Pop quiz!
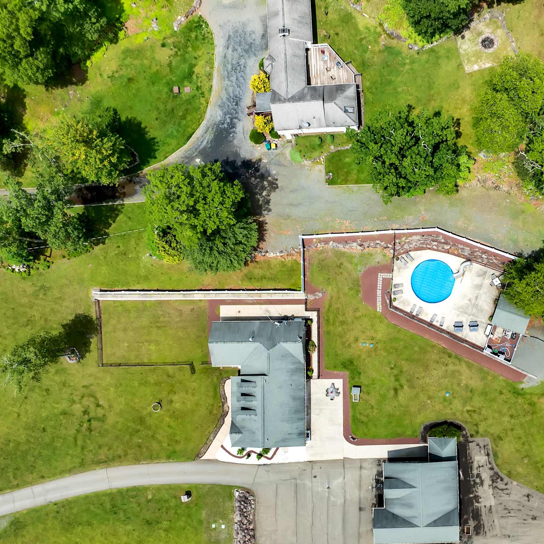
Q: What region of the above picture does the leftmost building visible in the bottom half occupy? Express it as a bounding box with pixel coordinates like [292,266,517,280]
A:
[208,321,308,448]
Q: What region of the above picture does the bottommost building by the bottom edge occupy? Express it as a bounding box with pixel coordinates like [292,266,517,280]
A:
[373,461,460,544]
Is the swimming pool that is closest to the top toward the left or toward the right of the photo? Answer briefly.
right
